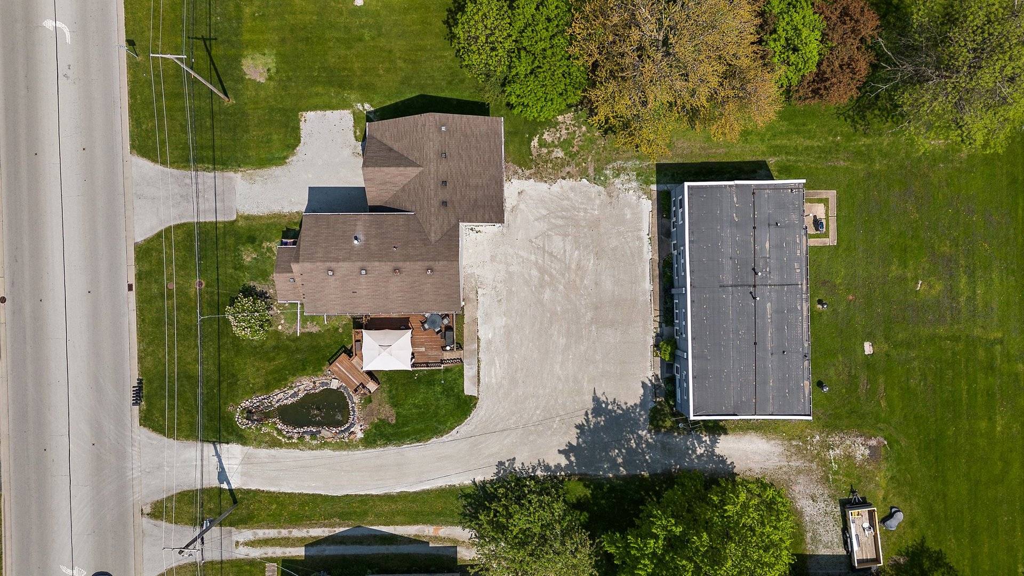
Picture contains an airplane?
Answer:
No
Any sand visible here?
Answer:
No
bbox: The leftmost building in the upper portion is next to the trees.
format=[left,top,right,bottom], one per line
[273,112,506,336]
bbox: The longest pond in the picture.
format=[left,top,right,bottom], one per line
[237,372,363,441]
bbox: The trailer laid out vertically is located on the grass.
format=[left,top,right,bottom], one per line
[840,486,883,569]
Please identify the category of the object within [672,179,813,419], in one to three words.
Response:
building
